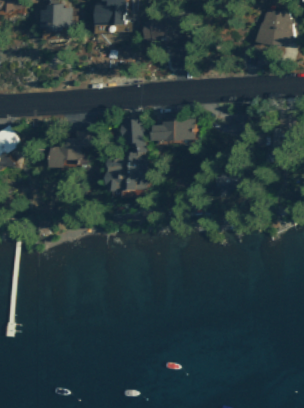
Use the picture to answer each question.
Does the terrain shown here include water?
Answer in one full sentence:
Yes, the picture does contain water.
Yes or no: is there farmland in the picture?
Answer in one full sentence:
No, the scene doesn't show any farmland.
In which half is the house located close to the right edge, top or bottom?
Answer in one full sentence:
The house located close to the right edge sits in the top half of the picture.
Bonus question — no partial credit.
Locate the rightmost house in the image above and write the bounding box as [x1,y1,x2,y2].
[256,12,298,62]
